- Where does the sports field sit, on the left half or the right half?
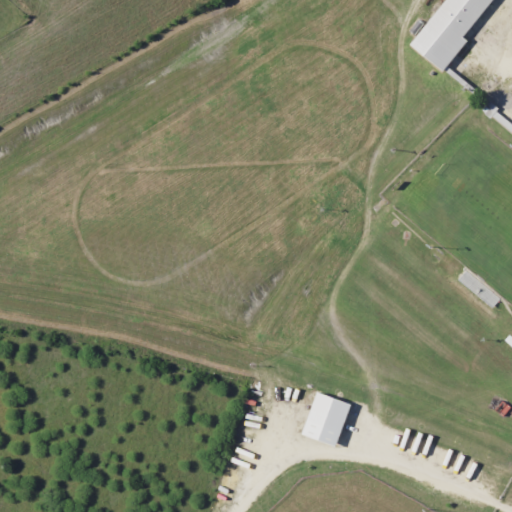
right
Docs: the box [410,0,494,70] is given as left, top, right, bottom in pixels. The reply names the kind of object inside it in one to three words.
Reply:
barn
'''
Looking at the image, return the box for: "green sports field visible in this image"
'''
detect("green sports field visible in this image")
[387,104,512,313]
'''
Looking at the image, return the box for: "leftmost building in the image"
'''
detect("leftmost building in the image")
[302,393,352,447]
